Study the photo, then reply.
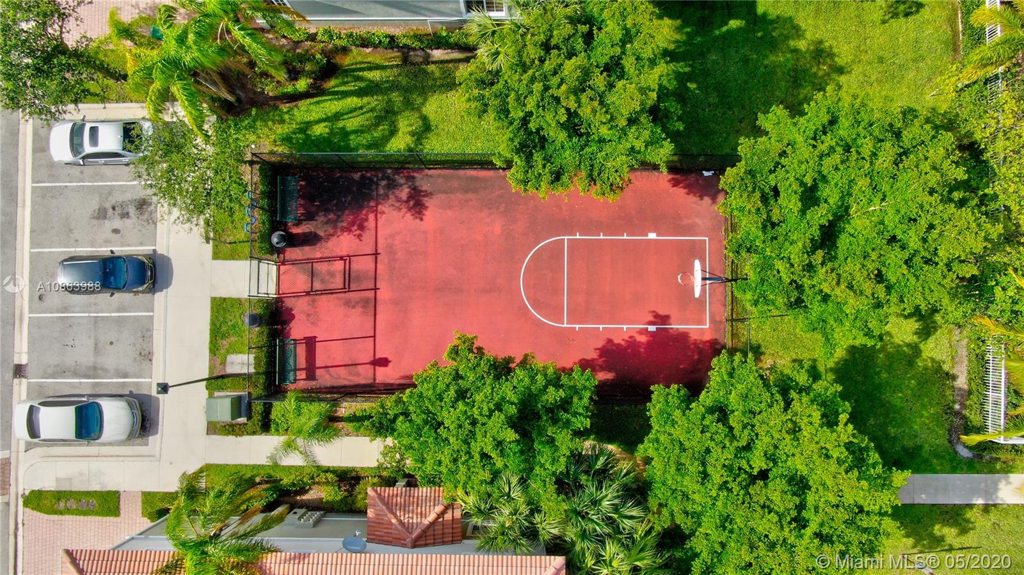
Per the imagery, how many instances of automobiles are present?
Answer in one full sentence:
In total, 3 automobiles can be seen.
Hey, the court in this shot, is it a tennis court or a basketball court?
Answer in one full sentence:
The court can be classified as a basketball court.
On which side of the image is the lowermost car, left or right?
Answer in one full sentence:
The lowermost car sits on the left side.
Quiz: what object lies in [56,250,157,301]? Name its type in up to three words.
car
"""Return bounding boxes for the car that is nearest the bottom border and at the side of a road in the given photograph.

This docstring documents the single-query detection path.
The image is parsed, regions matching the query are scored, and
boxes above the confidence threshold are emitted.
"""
[13,393,140,449]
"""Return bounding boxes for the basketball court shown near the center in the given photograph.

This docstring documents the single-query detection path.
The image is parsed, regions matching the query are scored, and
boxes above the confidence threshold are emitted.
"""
[277,168,728,389]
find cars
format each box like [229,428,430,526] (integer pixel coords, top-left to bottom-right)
[13,393,140,449]
[56,250,157,301]
[49,117,156,168]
